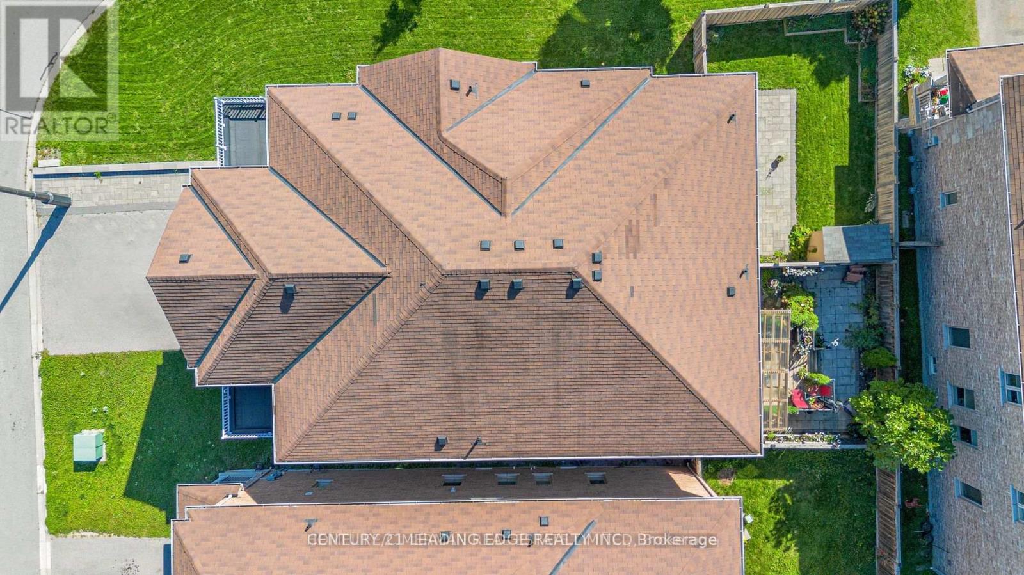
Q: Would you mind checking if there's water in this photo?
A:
No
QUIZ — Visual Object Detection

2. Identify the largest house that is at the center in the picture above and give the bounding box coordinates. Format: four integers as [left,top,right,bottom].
[145,48,763,463]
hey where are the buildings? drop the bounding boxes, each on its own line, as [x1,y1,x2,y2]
[171,461,744,575]
[145,48,763,463]
[907,42,1024,575]
[808,222,889,263]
